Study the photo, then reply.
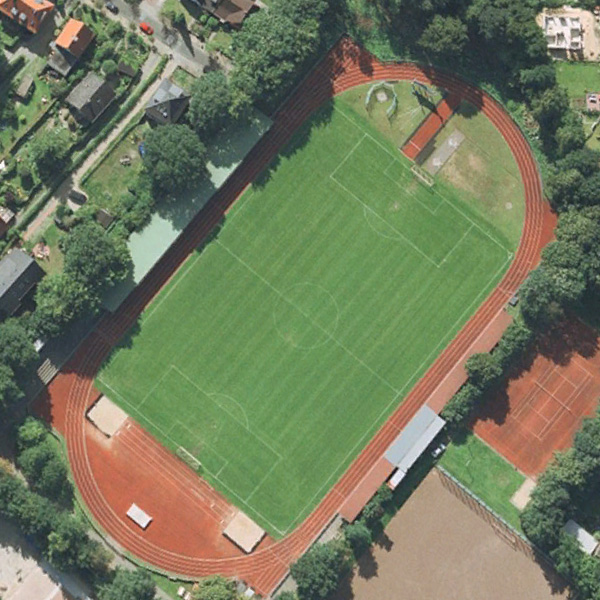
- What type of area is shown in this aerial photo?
sports ground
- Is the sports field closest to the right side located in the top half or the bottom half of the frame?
bottom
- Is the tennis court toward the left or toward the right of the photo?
right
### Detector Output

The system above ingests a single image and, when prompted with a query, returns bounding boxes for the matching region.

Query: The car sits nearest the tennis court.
[431,445,446,458]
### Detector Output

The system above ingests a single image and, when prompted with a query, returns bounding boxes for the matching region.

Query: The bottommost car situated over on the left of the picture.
[69,190,86,203]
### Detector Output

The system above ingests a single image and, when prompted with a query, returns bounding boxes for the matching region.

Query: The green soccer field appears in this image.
[93,96,518,539]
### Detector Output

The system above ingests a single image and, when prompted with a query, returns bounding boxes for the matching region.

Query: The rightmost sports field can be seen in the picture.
[339,468,597,600]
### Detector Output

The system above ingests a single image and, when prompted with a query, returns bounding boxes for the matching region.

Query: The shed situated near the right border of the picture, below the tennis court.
[561,520,600,555]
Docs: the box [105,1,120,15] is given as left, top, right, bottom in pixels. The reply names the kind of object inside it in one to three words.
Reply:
vehicle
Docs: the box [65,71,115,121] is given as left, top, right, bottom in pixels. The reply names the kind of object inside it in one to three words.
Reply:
house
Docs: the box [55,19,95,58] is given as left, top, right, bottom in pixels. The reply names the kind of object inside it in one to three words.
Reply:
house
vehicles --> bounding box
[431,445,446,458]
[139,22,154,35]
[105,1,120,15]
[69,190,86,203]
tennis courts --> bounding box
[474,316,600,486]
